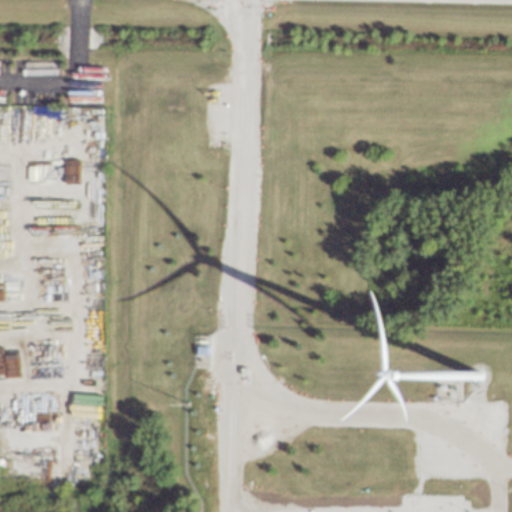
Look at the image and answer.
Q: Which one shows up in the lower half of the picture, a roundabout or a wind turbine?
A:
wind turbine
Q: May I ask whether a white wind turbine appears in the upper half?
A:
No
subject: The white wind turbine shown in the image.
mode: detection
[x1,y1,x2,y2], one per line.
[348,293,496,434]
